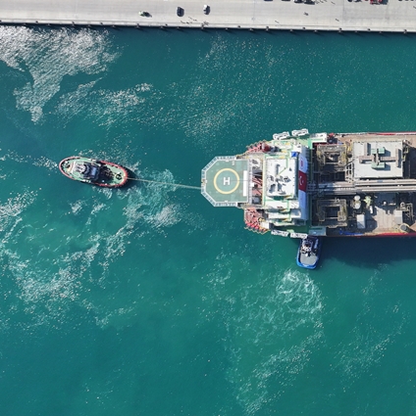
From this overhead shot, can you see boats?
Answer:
Yes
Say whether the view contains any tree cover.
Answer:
No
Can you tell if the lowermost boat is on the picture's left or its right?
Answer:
right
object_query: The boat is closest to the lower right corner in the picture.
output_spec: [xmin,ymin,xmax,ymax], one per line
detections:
[294,237,322,274]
